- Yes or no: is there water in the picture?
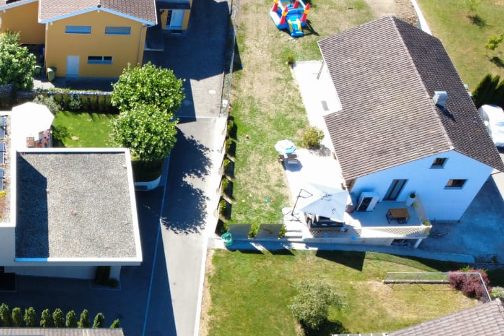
No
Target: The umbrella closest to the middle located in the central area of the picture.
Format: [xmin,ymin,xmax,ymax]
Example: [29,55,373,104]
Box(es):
[273,143,294,173]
